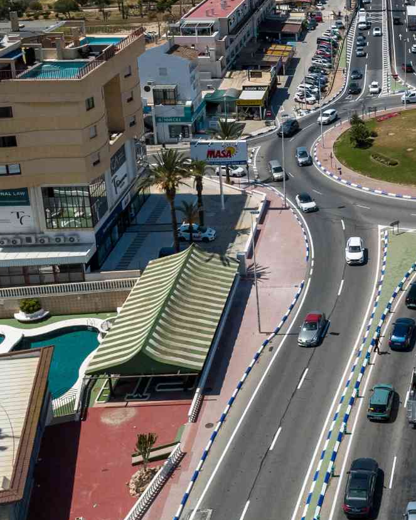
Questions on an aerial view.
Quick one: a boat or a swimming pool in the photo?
swimming pool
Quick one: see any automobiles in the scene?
Yes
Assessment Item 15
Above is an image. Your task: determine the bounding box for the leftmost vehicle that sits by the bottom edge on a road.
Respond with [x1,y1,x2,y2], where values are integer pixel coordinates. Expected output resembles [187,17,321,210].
[345,454,381,508]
